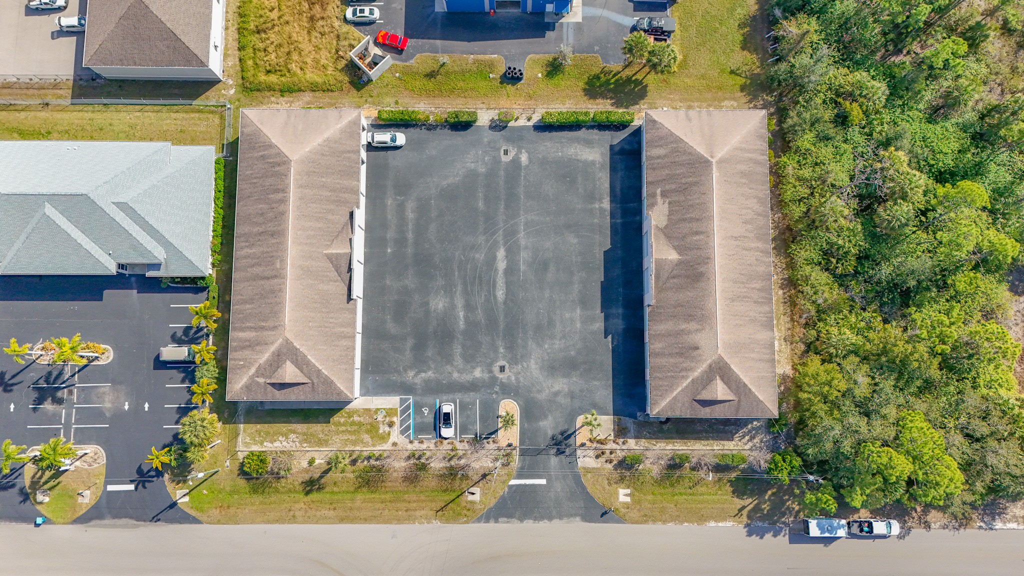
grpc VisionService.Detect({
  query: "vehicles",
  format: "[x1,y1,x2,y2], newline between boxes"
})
[848,520,897,538]
[631,31,667,48]
[636,15,675,33]
[346,7,379,23]
[370,132,404,148]
[53,15,86,32]
[377,33,410,52]
[29,0,69,10]
[158,346,199,362]
[439,403,455,438]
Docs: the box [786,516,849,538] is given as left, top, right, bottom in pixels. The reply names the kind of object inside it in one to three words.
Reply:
trailer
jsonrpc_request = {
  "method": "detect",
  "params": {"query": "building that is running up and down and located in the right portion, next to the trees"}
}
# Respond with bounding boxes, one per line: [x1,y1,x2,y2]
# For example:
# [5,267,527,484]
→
[640,109,780,418]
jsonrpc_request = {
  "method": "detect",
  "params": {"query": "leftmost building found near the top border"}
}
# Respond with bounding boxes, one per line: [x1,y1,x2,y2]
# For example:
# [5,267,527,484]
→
[83,0,226,80]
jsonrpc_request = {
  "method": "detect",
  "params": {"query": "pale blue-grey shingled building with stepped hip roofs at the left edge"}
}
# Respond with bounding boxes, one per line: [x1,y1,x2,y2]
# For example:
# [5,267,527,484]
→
[0,141,220,277]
